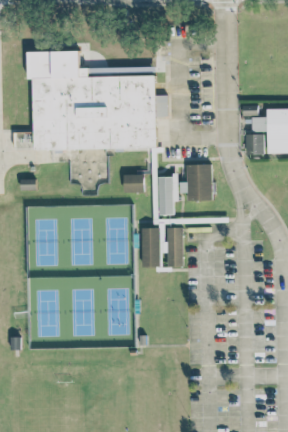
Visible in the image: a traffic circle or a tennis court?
tennis court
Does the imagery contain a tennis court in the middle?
Yes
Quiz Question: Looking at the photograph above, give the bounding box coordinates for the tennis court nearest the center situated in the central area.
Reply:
[106,217,130,264]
